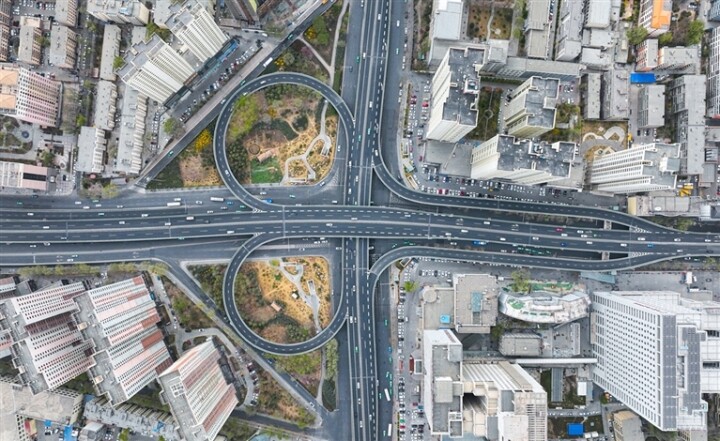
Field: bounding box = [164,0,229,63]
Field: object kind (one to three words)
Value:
building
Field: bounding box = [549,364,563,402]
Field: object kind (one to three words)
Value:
shed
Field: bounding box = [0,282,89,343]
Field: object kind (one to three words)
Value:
building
